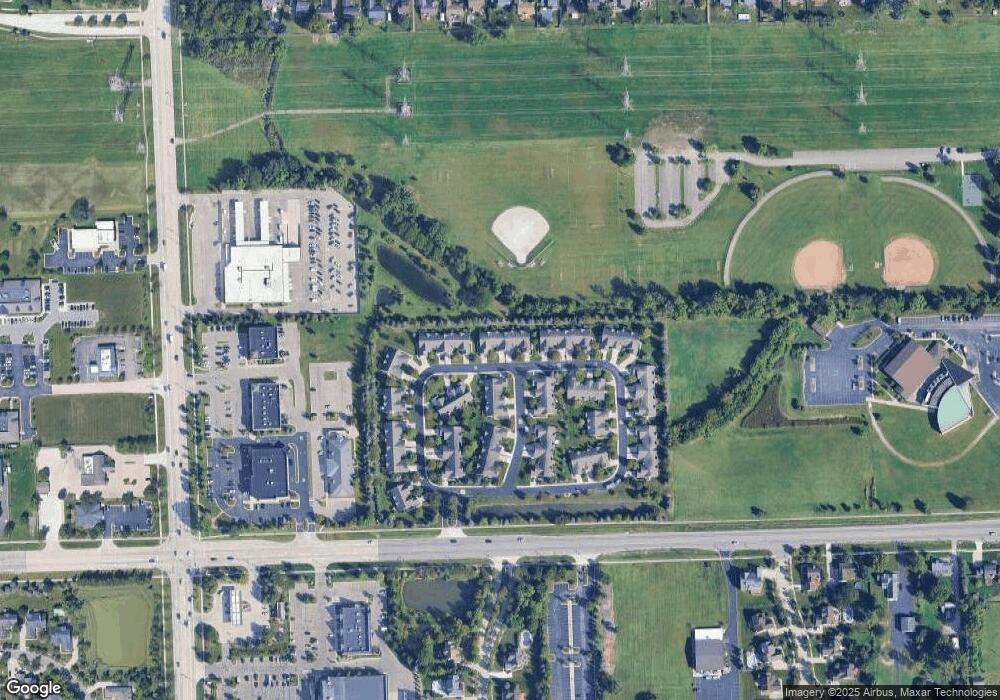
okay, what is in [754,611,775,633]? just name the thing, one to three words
house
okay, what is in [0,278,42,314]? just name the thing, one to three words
building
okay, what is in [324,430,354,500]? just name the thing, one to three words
building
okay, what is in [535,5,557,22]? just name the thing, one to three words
house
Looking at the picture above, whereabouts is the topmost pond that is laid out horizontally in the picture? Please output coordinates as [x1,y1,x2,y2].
[472,501,651,517]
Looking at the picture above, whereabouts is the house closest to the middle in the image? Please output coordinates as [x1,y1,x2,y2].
[479,333,530,358]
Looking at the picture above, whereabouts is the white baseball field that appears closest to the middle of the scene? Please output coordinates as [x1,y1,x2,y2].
[478,185,566,269]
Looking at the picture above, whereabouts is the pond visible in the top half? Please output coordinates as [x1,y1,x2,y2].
[375,241,454,309]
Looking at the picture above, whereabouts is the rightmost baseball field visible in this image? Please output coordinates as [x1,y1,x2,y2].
[868,186,990,292]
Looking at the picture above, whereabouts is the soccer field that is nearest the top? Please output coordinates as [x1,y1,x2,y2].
[446,152,553,198]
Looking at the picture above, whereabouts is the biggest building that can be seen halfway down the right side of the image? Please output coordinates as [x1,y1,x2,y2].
[885,341,975,436]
